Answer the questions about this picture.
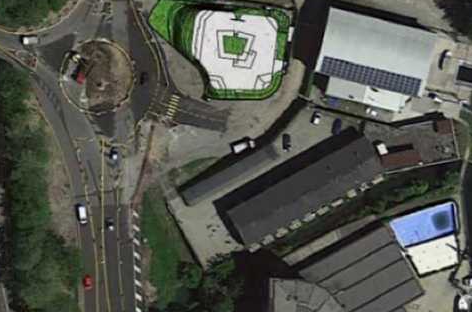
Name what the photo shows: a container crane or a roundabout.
roundabout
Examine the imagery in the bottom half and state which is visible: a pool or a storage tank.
pool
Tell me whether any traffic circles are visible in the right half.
No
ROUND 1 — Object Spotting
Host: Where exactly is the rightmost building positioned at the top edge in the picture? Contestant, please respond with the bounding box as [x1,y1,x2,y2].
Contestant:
[315,7,438,96]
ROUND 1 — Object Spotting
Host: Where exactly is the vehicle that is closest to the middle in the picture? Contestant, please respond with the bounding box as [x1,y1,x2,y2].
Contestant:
[232,140,253,154]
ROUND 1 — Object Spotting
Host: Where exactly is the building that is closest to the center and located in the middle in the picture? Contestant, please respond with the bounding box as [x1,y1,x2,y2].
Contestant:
[182,146,279,204]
